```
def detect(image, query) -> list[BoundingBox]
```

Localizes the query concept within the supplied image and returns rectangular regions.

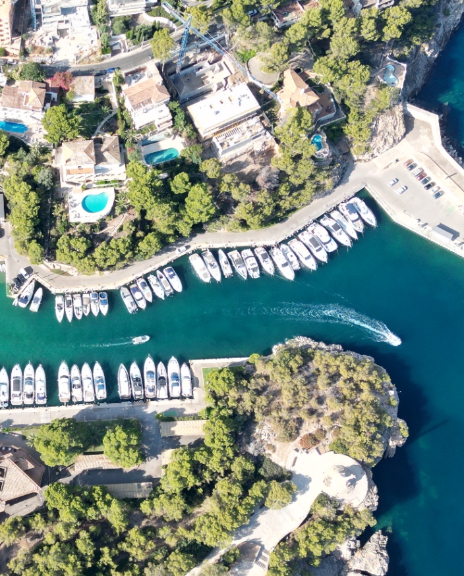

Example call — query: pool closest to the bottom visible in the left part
[81,191,109,214]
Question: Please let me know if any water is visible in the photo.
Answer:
Yes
